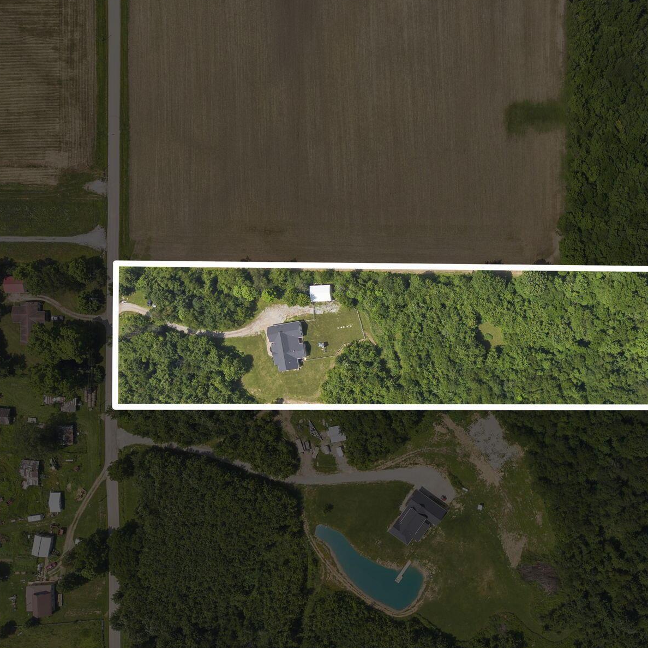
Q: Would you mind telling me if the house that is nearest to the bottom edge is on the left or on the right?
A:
left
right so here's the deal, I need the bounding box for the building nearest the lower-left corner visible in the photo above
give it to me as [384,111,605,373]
[25,585,57,616]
